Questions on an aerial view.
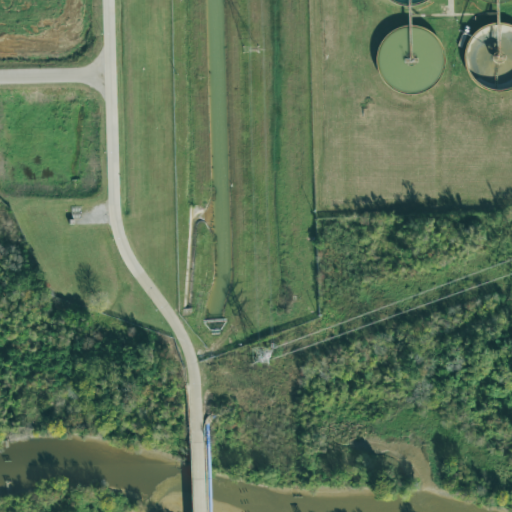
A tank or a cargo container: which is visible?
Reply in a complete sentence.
The image shows a tank.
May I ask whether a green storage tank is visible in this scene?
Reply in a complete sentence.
Yes, I can see a green storage tank in this picture.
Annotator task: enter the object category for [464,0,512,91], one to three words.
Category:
storage tank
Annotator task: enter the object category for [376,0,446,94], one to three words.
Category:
storage tank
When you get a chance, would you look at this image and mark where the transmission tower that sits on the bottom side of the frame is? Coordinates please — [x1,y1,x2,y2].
[252,347,272,362]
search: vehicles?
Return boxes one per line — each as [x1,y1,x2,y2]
[458,30,484,47]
